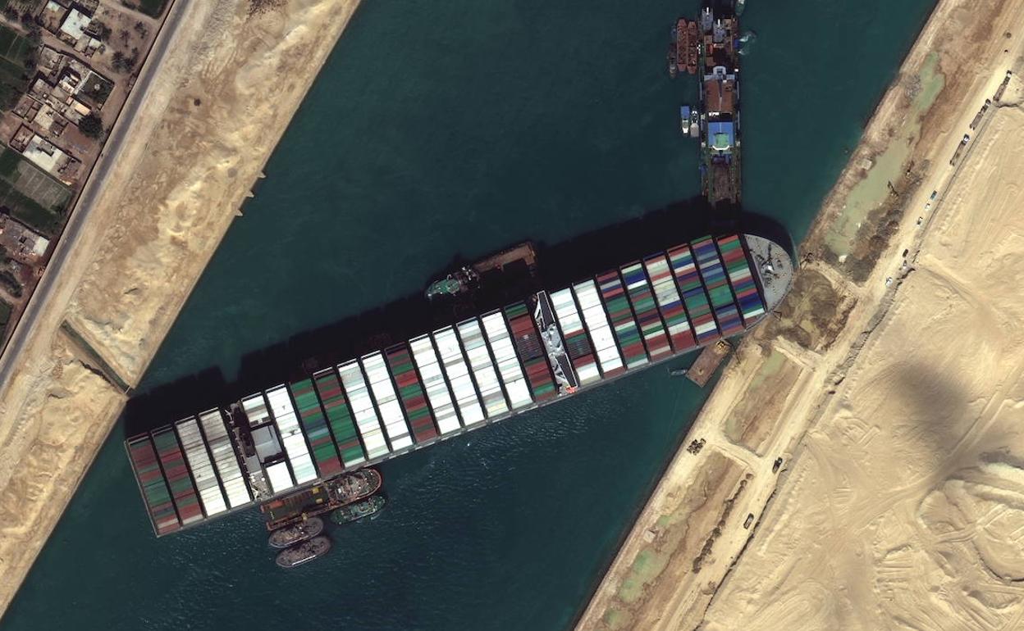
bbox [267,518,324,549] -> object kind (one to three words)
boat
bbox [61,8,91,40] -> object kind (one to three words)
house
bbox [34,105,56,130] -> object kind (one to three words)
house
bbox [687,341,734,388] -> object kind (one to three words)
ship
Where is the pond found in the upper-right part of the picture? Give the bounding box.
[826,53,947,254]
